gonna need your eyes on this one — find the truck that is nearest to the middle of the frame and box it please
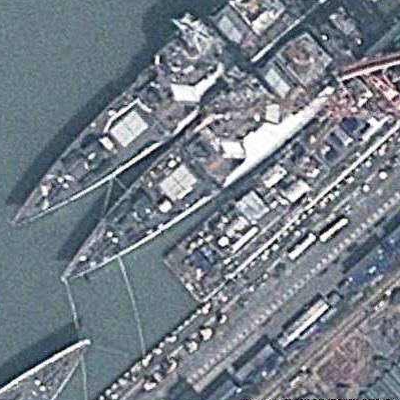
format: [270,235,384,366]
[287,234,319,262]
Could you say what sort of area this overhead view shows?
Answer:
port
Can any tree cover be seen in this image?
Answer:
No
